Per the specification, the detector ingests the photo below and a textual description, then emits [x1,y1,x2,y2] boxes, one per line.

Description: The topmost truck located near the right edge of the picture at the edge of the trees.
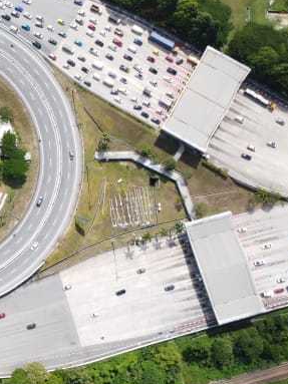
[243,88,277,109]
